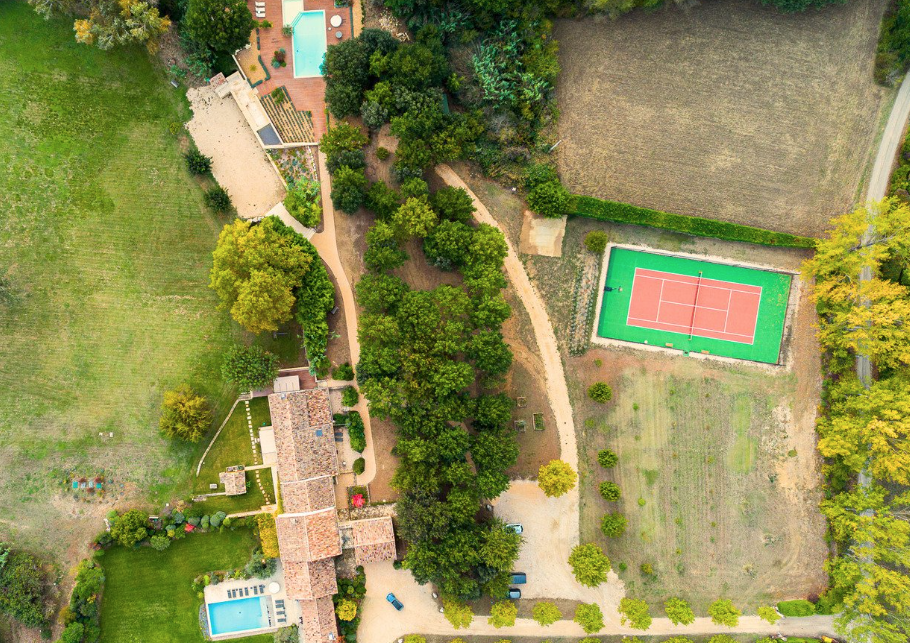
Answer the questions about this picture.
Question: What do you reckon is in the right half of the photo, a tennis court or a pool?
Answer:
tennis court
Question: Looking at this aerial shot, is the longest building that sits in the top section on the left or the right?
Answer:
left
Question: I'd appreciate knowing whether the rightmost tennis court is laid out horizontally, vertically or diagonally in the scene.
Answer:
horizontally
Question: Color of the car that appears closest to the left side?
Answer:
blue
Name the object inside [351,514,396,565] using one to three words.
shed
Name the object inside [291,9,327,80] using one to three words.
swimming pool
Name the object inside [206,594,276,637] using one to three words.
swimming pool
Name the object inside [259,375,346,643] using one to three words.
house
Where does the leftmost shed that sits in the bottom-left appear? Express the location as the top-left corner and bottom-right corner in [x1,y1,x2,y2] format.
[219,471,250,496]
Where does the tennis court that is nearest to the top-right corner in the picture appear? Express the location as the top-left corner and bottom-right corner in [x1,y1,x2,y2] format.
[591,242,795,364]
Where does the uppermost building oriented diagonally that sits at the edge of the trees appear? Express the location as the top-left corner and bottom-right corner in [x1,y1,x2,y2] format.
[211,71,285,152]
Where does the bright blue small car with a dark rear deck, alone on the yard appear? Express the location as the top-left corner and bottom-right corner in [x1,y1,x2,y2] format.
[385,591,404,611]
